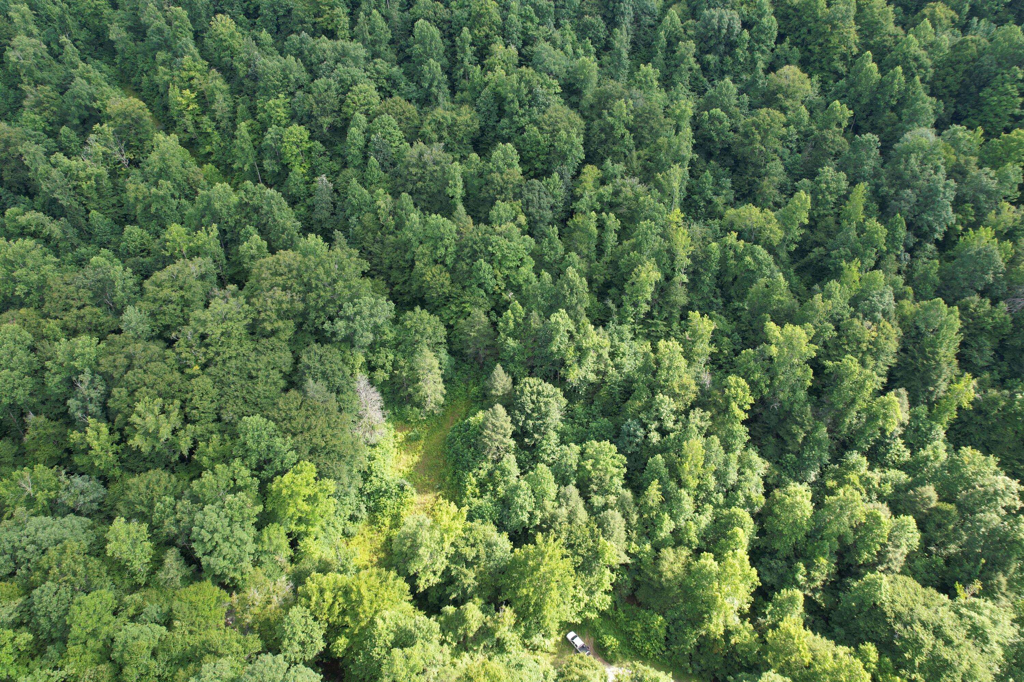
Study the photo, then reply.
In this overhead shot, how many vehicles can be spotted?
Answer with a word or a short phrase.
1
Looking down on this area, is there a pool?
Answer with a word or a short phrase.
No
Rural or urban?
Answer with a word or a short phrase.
rural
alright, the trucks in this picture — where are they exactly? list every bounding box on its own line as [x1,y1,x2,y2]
[565,630,591,659]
